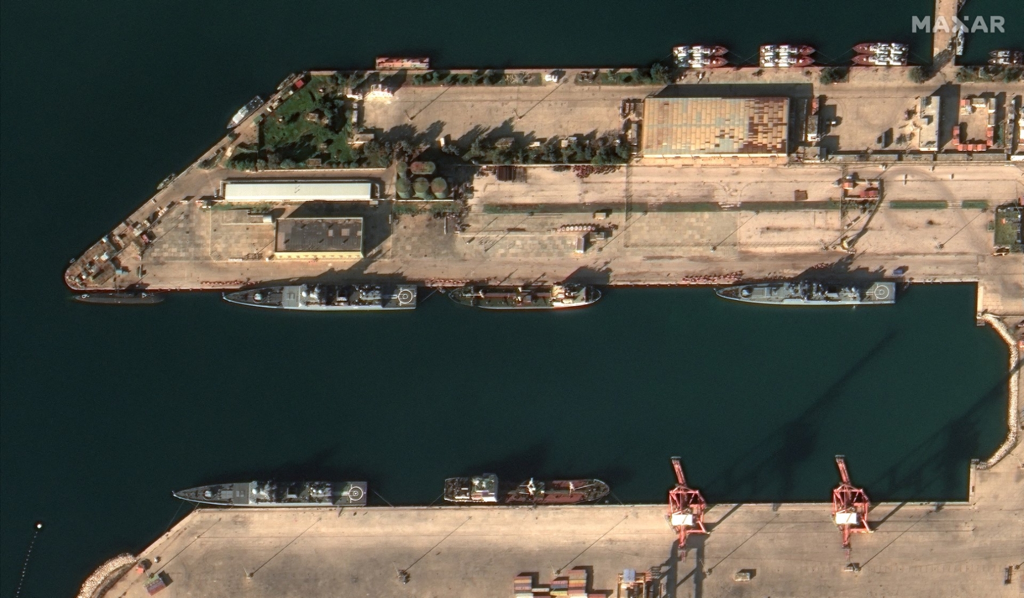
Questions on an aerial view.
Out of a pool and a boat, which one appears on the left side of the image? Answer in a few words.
boat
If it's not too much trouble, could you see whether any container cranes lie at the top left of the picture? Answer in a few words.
No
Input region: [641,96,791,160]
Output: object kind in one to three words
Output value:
building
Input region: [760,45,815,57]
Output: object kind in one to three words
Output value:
boat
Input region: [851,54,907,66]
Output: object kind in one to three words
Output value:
boat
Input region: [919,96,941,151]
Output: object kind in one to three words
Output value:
building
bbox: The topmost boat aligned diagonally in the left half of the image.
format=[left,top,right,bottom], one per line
[275,71,300,92]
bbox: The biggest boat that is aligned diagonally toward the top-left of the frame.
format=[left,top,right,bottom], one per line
[228,94,267,130]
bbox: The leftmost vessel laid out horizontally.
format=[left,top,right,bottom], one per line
[76,290,162,303]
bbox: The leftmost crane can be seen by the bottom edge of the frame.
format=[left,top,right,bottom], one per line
[618,570,652,598]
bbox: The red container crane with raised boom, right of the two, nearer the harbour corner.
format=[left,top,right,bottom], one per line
[833,457,873,565]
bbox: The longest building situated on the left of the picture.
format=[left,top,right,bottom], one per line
[225,184,372,200]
